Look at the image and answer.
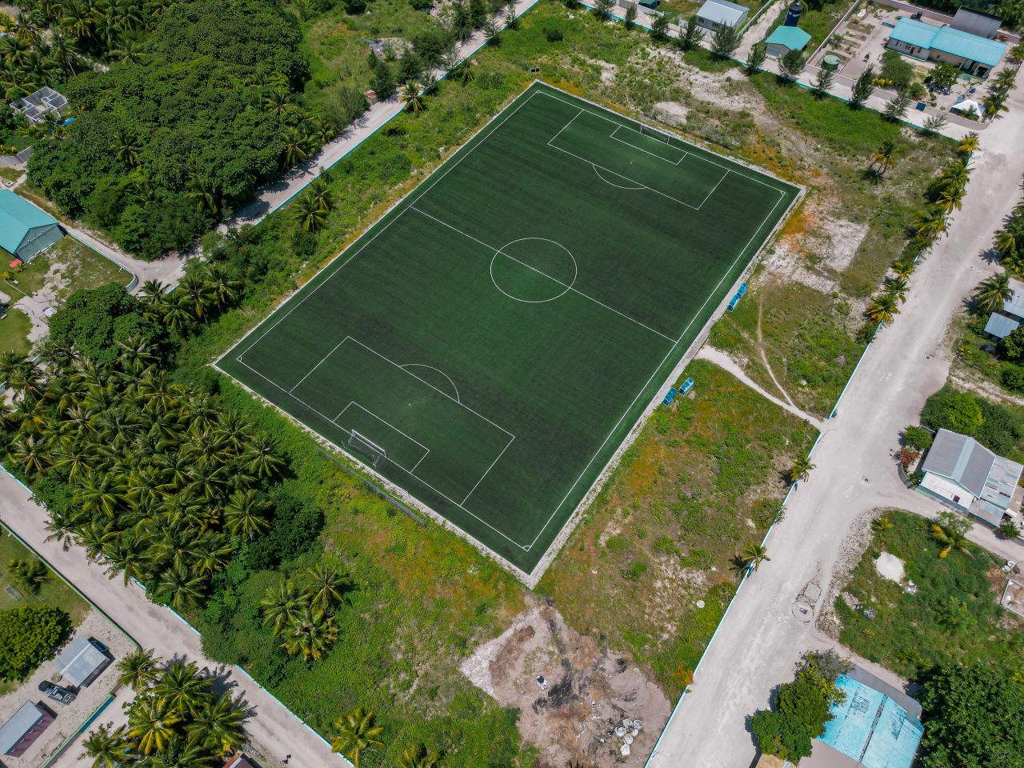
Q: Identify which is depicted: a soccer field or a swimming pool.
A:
soccer field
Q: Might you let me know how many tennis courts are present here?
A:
0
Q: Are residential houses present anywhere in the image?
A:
Yes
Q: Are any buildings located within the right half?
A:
Yes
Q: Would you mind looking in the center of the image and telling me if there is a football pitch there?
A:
Yes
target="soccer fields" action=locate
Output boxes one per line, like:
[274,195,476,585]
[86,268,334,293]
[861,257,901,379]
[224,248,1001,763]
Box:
[211,81,805,591]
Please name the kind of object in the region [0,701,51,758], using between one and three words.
shed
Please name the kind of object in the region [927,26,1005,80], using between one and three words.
house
